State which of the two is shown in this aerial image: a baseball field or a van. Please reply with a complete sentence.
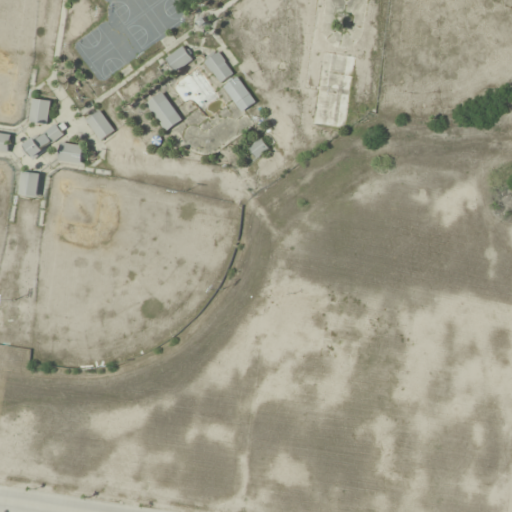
It is a baseball field that can be seen here.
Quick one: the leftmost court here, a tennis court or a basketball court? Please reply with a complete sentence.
It looks like the leftmost court is a basketball court.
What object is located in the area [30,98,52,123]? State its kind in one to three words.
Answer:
building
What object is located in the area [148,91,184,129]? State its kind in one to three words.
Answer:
building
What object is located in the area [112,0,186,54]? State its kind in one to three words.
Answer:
basketball court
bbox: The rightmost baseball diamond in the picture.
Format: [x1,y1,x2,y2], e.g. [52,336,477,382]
[34,170,243,366]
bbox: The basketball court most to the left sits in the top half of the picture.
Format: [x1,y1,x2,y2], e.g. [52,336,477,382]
[76,21,132,80]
